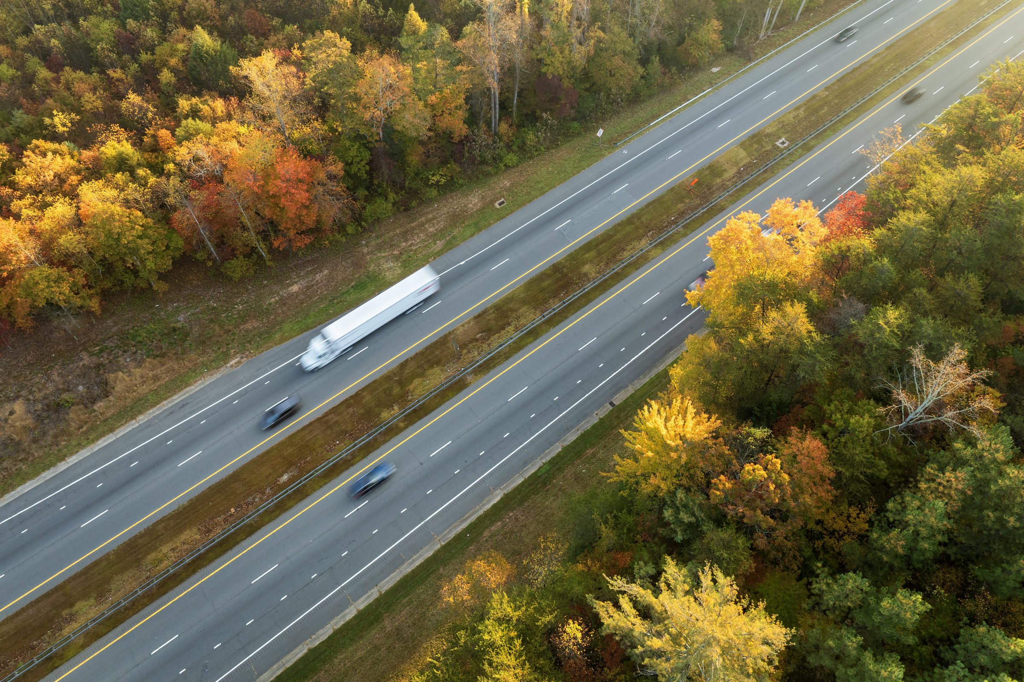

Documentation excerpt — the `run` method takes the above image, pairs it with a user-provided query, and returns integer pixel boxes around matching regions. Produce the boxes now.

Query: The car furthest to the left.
[260,398,299,429]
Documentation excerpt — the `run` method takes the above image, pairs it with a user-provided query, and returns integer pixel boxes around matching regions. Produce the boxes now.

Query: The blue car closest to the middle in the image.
[350,464,391,498]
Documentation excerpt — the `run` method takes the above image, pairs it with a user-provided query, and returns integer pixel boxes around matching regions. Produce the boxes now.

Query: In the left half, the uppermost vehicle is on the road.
[299,265,446,376]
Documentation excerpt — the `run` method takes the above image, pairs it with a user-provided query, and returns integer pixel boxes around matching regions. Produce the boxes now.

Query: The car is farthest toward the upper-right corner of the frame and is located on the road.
[900,87,925,105]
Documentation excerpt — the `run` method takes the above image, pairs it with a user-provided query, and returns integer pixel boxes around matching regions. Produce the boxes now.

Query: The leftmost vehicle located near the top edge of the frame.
[833,24,857,43]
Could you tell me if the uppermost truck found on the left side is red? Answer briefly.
No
